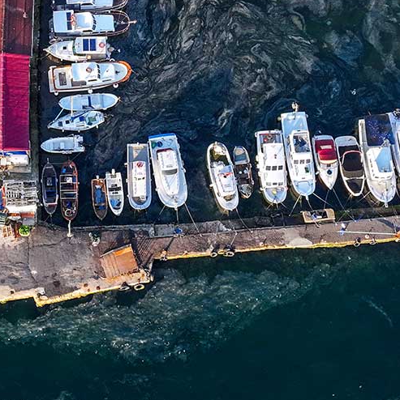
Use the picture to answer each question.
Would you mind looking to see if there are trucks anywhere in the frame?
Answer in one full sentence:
No, there appears to be no truck in this shot.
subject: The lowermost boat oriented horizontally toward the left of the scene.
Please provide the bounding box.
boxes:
[42,135,87,153]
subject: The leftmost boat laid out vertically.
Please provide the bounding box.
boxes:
[41,162,59,214]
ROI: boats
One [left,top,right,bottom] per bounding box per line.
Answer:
[41,162,59,214]
[386,107,400,183]
[252,131,288,205]
[207,141,238,212]
[275,105,317,196]
[60,161,79,221]
[45,60,134,94]
[312,133,337,190]
[49,98,109,134]
[43,36,119,62]
[333,136,363,196]
[354,114,397,205]
[42,135,87,153]
[50,9,138,38]
[233,146,253,198]
[91,176,108,221]
[106,169,125,216]
[54,0,127,10]
[58,92,121,109]
[149,130,188,209]
[124,145,153,210]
